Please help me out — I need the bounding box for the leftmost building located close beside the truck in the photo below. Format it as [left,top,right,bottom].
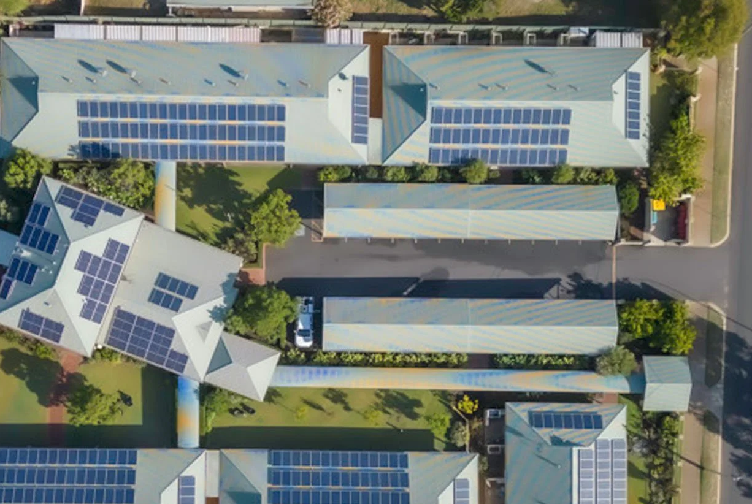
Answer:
[0,175,280,400]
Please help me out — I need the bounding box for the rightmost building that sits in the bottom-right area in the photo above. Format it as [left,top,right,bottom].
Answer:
[633,357,695,412]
